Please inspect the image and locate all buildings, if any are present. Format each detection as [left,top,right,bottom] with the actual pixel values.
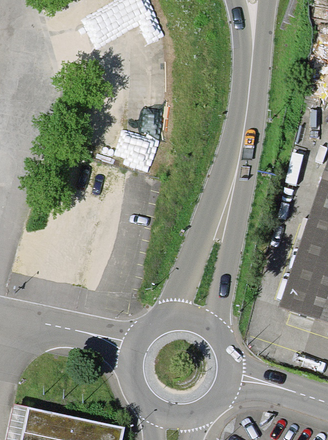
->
[22,407,124,440]
[280,172,328,322]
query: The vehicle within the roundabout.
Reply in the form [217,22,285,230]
[226,344,243,363]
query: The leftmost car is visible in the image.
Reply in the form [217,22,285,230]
[78,164,92,190]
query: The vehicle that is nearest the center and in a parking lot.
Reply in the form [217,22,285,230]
[130,214,150,226]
